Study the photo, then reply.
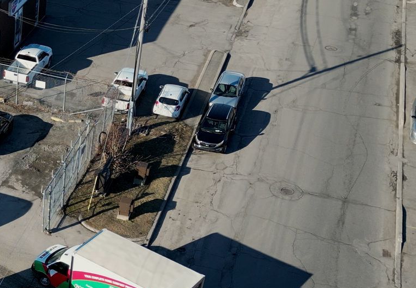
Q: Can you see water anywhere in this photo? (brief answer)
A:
No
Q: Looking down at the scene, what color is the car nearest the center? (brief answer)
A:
black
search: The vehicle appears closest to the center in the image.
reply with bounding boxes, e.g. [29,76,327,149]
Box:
[193,99,237,152]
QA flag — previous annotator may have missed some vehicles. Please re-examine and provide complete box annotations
[211,74,248,115]
[100,66,149,116]
[0,107,15,139]
[193,99,237,152]
[27,229,205,288]
[151,81,190,118]
[1,43,54,88]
